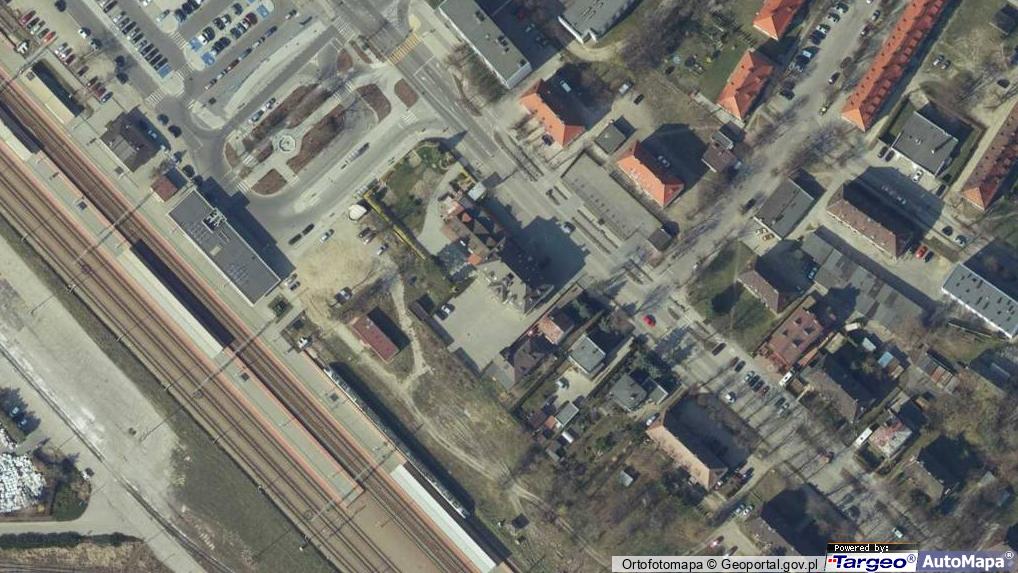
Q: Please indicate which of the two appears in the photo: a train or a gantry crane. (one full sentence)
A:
The one in the frame is a train.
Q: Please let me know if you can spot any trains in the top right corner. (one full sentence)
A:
No, the scene shows no train in the top right corner.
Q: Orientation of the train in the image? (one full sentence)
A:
The train runs at an angle in the image.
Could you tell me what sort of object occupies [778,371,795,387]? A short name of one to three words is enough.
vehicle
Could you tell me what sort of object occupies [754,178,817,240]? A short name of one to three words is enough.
building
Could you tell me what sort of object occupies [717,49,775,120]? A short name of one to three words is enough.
house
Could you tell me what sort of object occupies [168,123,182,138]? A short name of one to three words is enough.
vehicle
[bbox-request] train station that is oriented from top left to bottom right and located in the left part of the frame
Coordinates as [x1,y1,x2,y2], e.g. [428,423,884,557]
[169,191,280,304]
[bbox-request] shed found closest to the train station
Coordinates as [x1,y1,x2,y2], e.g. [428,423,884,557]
[152,174,179,203]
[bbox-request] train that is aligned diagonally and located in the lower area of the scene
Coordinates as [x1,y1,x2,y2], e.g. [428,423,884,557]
[326,366,467,515]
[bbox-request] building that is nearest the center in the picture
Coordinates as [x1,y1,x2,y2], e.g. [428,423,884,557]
[477,254,553,316]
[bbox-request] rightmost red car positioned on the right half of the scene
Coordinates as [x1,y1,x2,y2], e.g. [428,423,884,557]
[915,245,928,260]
